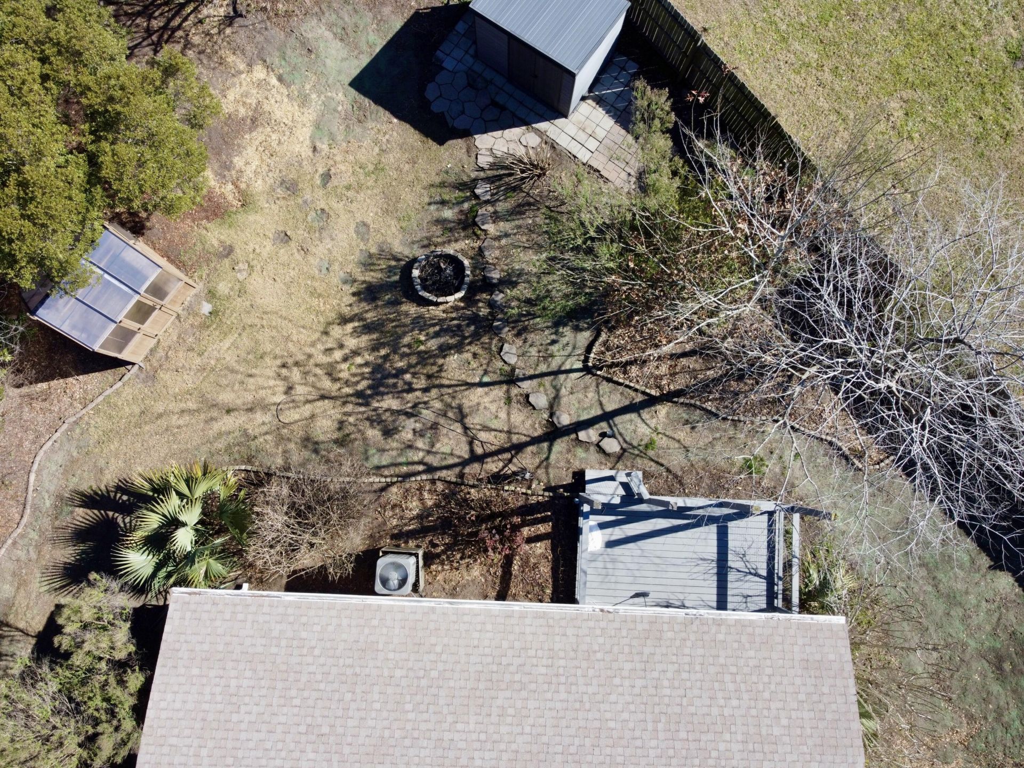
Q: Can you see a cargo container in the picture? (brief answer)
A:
No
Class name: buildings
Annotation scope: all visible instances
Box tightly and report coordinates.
[135,583,865,768]
[3,212,196,363]
[469,0,629,112]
